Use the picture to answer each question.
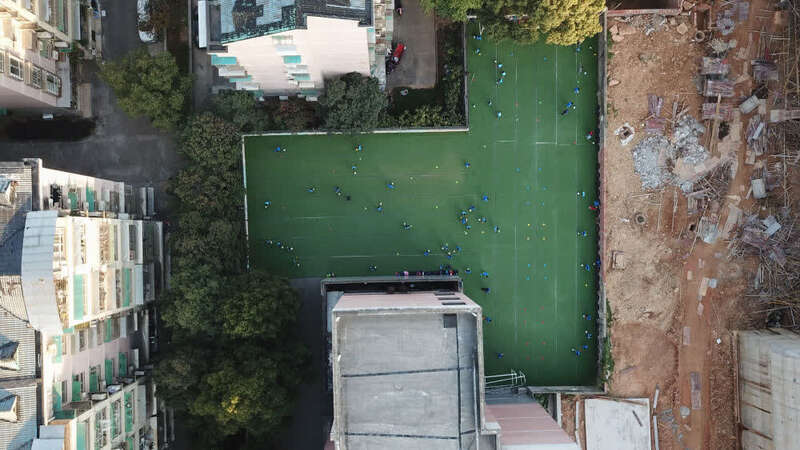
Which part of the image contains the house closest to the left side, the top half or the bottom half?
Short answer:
top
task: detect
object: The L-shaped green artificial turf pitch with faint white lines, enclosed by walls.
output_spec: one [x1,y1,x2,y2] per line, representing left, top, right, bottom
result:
[248,0,593,392]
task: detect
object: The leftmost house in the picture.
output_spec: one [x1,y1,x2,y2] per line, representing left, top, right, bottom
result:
[0,0,74,107]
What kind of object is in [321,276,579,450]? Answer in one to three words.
building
